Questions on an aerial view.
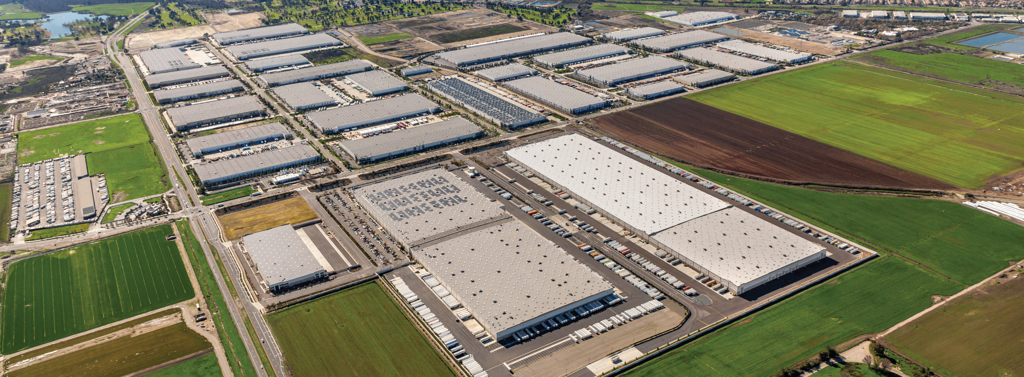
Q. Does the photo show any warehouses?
Yes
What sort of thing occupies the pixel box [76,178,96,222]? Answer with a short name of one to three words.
shed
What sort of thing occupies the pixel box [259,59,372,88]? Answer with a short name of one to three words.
building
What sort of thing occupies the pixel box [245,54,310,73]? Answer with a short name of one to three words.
building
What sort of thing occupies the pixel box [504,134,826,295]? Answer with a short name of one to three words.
warehouse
